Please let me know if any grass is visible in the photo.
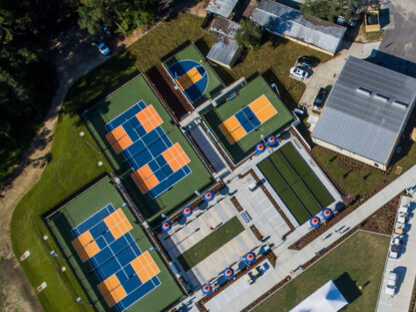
Yes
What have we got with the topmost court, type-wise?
basketball court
